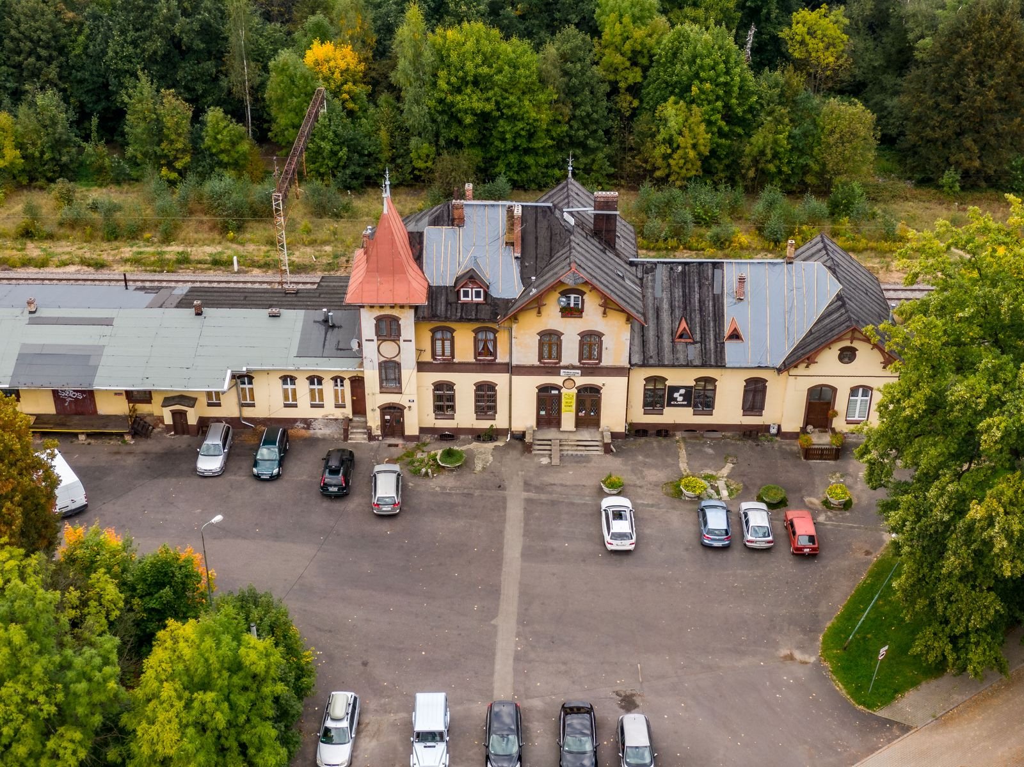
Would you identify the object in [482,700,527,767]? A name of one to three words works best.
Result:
car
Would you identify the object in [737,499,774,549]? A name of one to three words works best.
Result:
car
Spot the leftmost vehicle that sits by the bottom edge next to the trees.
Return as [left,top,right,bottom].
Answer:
[316,692,364,767]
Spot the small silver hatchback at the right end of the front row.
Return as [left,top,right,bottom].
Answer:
[614,716,658,767]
